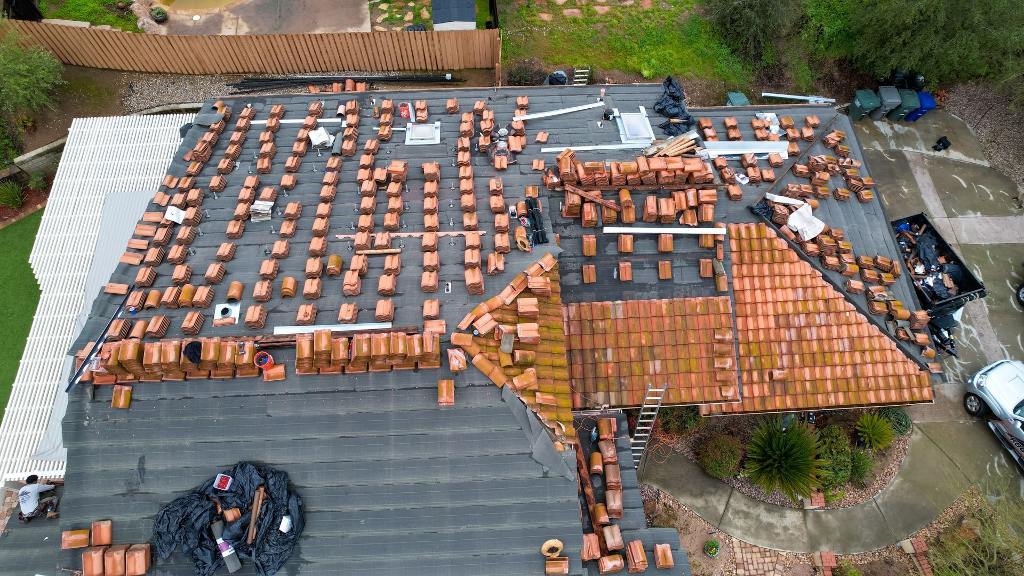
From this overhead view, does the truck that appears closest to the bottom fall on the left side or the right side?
right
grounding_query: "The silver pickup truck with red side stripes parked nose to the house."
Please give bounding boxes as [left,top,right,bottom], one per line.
[962,355,1024,490]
